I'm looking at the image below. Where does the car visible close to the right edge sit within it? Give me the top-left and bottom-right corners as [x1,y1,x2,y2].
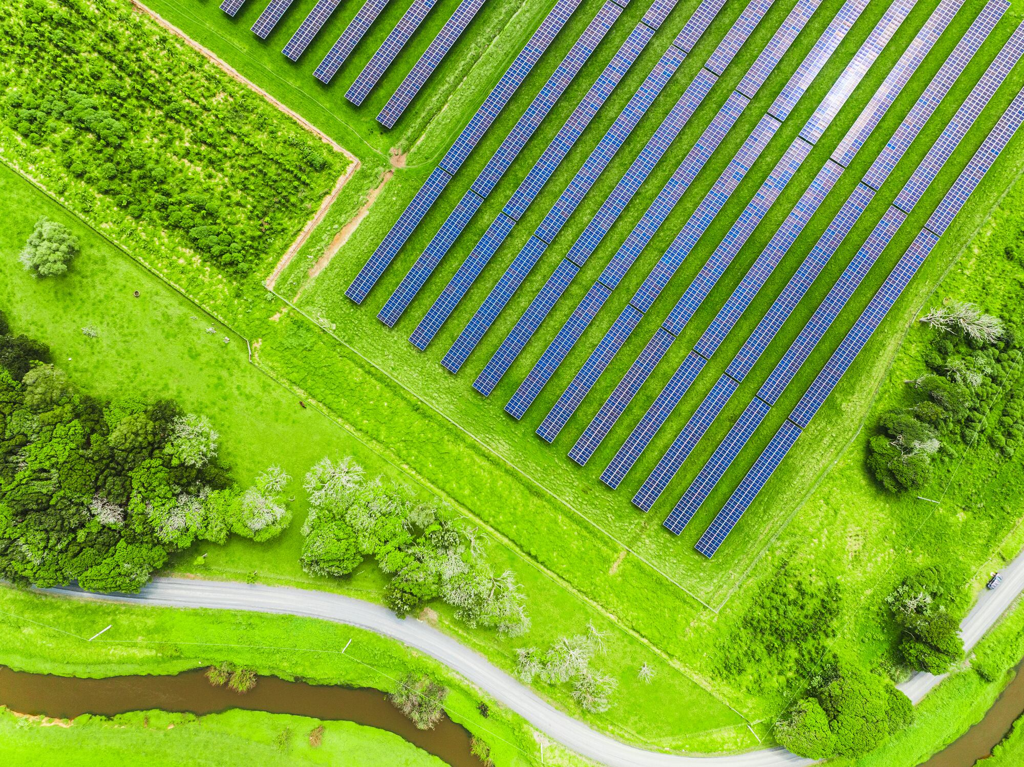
[986,572,1002,589]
